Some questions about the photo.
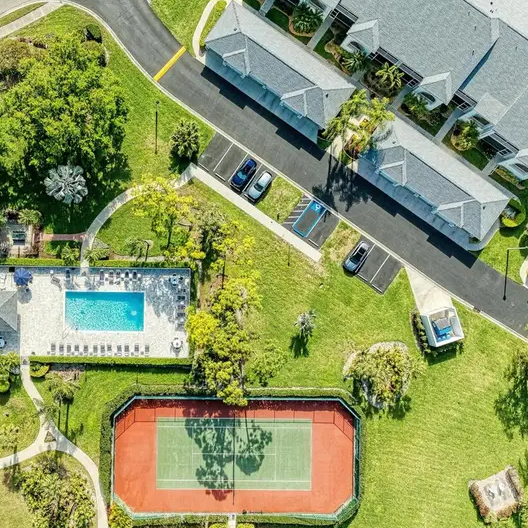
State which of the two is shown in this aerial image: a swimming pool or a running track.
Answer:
swimming pool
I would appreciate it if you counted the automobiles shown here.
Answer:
3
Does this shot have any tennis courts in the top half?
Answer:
No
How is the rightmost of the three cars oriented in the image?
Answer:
diagonally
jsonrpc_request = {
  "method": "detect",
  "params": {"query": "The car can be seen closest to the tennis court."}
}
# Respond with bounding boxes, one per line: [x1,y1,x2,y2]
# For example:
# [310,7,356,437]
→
[344,242,369,273]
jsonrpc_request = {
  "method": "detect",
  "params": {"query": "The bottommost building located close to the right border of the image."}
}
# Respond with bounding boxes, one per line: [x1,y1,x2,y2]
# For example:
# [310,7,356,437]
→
[362,114,510,242]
